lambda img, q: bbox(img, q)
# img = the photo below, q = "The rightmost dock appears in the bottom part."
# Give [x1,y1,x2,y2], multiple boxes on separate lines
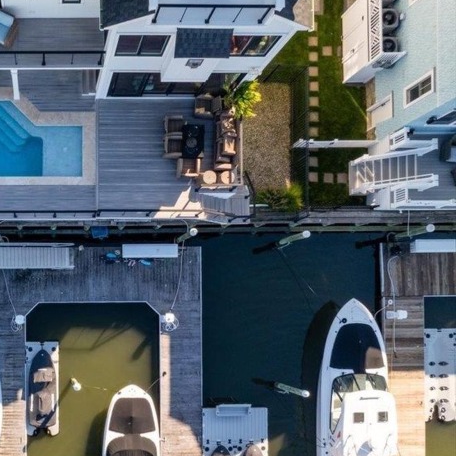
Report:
[426,329,456,422]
